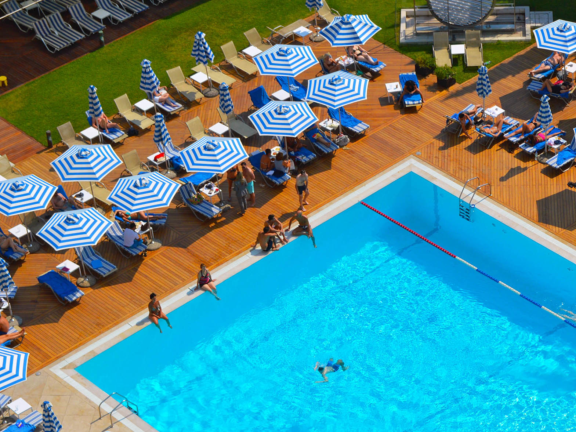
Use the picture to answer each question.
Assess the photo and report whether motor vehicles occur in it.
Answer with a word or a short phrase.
No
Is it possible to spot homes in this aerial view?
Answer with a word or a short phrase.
No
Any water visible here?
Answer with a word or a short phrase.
Yes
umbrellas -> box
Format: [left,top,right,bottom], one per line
[248,99,318,170]
[218,81,240,143]
[0,170,57,248]
[87,85,111,147]
[0,259,23,327]
[0,350,35,431]
[143,59,166,122]
[51,145,122,210]
[320,8,382,80]
[306,0,323,40]
[536,99,555,163]
[107,169,179,246]
[534,18,576,85]
[45,400,66,432]
[178,139,248,210]
[306,72,368,142]
[41,203,111,281]
[155,115,178,179]
[253,46,318,103]
[474,65,493,126]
